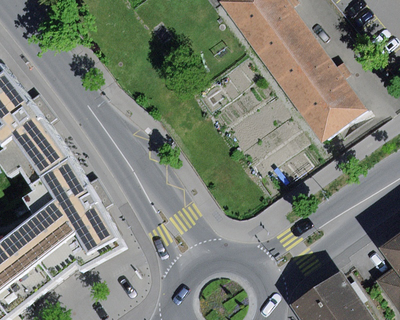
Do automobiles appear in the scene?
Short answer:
Yes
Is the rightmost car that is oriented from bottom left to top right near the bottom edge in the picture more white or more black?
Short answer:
white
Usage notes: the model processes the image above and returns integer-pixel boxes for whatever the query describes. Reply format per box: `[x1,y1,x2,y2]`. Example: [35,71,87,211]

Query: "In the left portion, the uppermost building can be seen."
[0,62,83,184]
